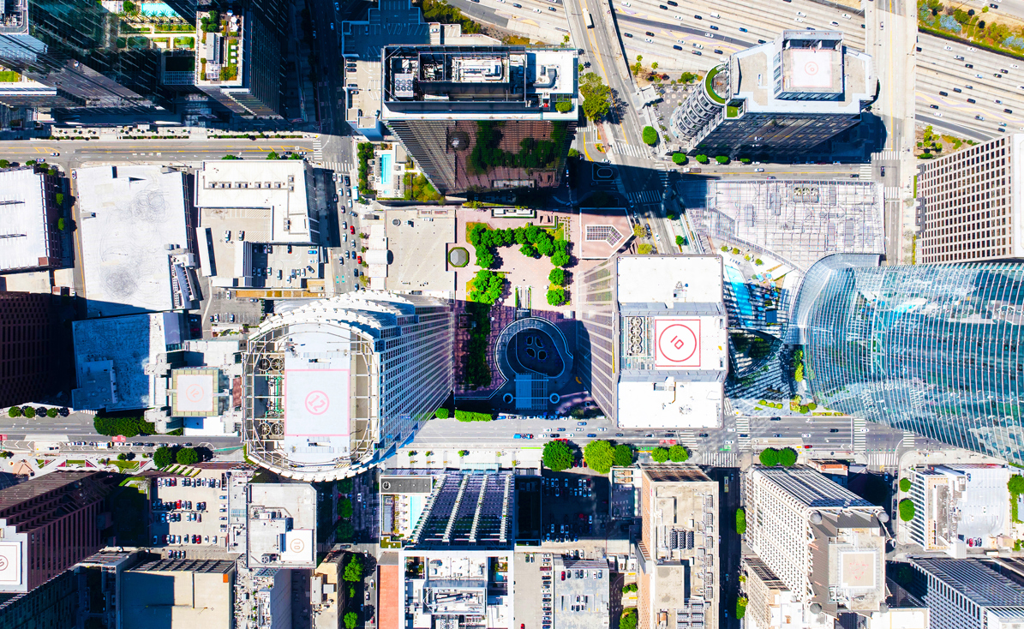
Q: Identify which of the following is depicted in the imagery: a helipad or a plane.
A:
helipad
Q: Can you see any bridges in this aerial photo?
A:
Yes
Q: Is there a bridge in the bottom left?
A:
No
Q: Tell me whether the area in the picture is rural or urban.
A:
urban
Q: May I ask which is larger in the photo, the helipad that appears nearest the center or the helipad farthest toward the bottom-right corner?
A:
the helipad that appears nearest the center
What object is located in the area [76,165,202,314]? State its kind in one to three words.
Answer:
building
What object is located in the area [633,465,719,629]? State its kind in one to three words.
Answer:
building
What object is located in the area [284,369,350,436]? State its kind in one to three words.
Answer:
helipad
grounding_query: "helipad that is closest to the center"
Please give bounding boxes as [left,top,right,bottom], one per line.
[655,317,701,368]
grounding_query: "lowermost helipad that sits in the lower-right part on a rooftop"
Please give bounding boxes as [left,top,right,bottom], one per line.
[837,549,877,589]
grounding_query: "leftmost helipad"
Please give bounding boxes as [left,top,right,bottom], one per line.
[0,540,23,584]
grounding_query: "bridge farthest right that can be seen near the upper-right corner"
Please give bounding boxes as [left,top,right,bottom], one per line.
[863,0,917,159]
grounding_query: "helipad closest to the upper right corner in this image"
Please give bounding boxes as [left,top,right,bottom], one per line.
[791,49,833,88]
